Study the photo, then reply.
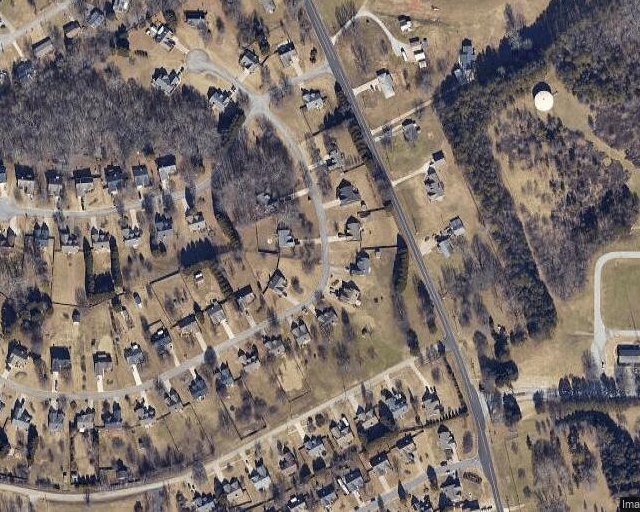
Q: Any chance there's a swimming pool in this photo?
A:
No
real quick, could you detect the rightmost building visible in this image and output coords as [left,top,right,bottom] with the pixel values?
[619,349,640,363]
